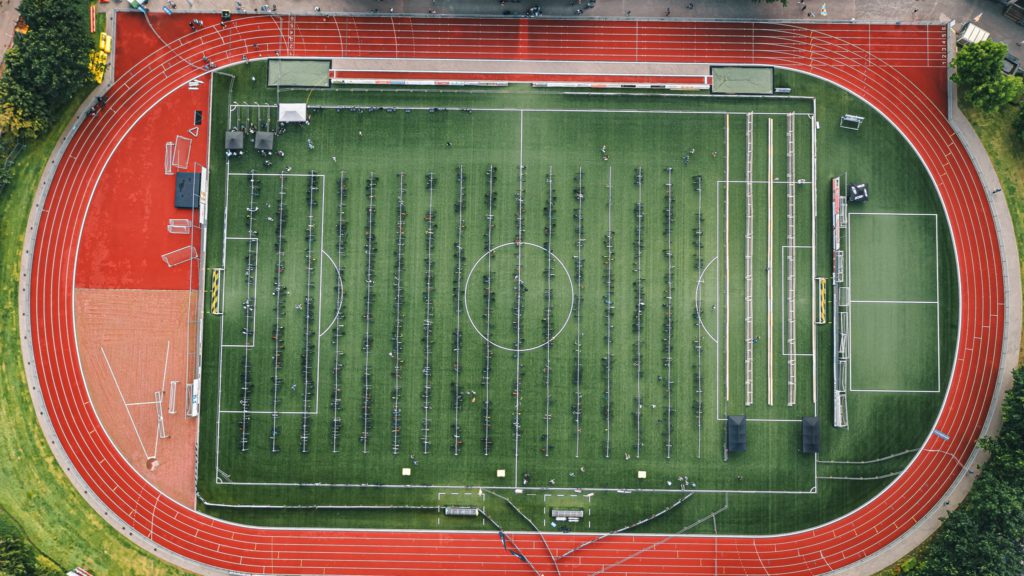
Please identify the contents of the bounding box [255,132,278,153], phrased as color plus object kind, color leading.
gray tent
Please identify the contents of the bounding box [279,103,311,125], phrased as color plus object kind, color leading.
white tent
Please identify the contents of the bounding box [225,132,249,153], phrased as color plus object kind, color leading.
gray tent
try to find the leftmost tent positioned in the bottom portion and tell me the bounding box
[723,412,746,451]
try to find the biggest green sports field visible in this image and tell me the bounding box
[213,102,819,528]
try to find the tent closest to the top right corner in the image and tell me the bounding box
[840,183,868,207]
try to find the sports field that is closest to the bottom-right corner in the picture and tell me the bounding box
[849,213,940,392]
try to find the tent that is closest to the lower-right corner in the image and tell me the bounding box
[796,413,820,453]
